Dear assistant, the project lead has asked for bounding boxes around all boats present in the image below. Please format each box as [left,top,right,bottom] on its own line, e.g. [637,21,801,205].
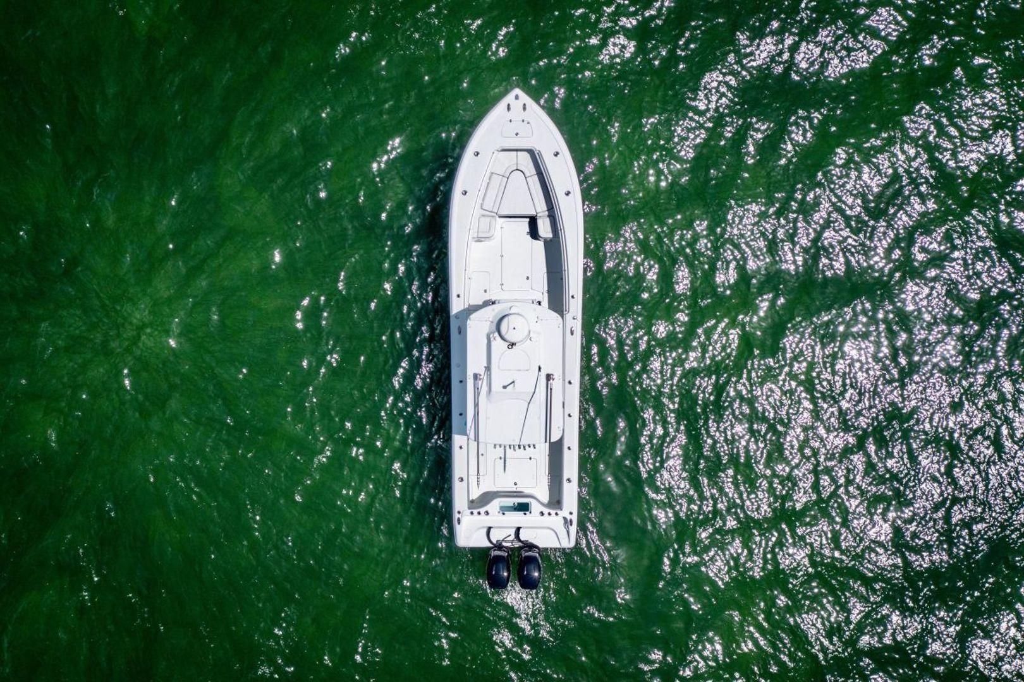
[448,86,585,589]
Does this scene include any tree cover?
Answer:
No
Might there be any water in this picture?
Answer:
Yes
